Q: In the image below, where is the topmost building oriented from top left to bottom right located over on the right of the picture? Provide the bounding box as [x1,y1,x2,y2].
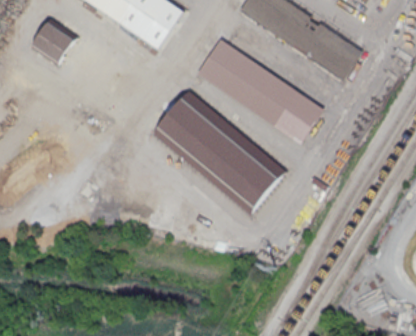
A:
[242,0,362,81]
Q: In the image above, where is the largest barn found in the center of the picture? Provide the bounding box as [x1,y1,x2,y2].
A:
[154,89,286,215]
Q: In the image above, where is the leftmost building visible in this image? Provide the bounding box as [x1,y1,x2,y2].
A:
[32,17,78,66]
